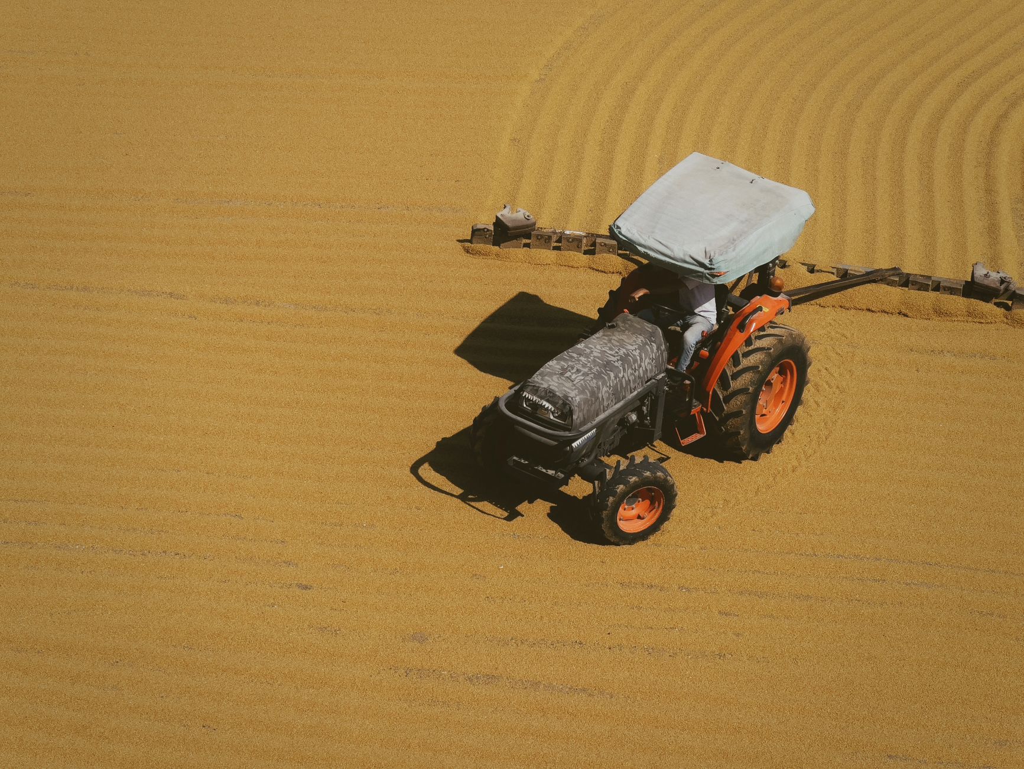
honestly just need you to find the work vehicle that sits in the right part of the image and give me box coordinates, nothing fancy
[485,155,815,545]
